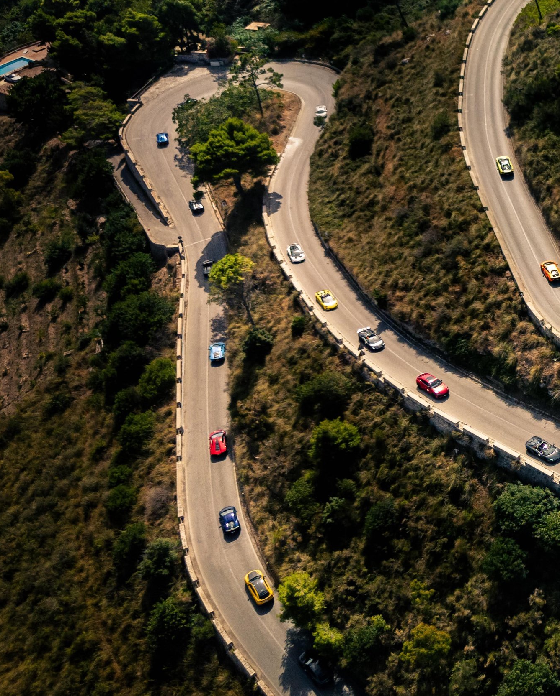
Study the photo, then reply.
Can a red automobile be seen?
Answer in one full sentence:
Yes, there is a red automobile in the image.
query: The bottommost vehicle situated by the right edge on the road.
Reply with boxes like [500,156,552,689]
[523,436,560,464]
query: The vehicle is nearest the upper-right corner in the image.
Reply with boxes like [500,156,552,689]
[496,158,514,177]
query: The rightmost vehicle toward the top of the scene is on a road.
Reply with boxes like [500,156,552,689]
[541,261,560,284]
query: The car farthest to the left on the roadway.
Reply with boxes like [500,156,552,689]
[156,134,170,146]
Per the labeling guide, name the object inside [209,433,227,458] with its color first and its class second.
red car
